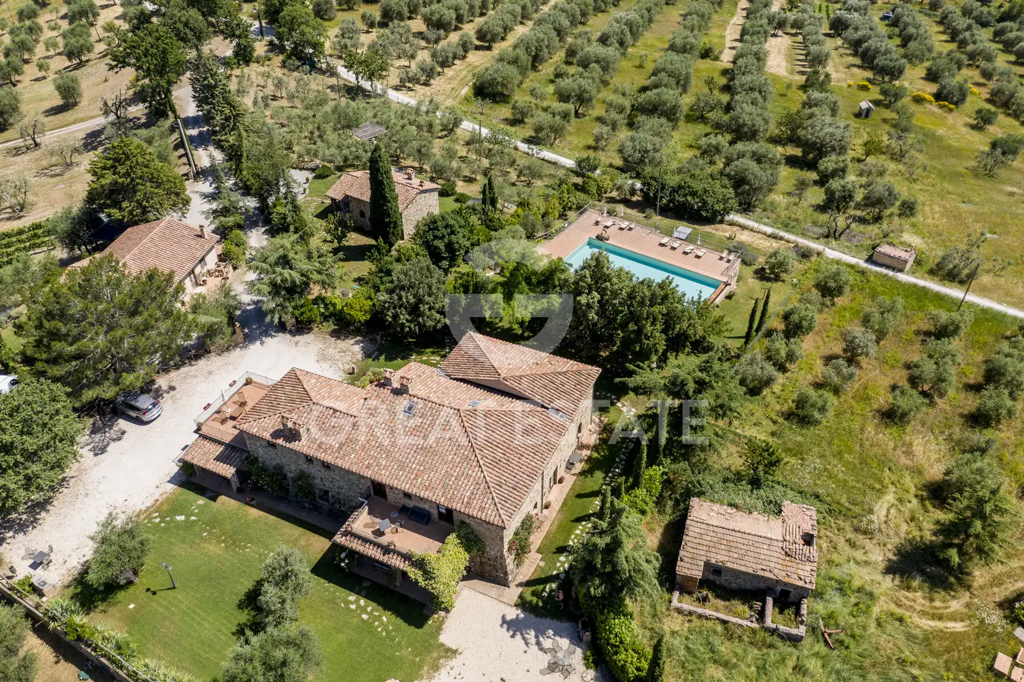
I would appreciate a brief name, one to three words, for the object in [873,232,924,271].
shed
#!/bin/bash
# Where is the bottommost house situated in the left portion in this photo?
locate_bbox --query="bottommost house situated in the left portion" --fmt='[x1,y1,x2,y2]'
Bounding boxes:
[182,329,604,605]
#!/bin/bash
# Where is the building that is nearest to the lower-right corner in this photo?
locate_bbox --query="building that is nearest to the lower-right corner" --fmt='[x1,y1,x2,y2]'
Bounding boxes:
[675,494,820,605]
